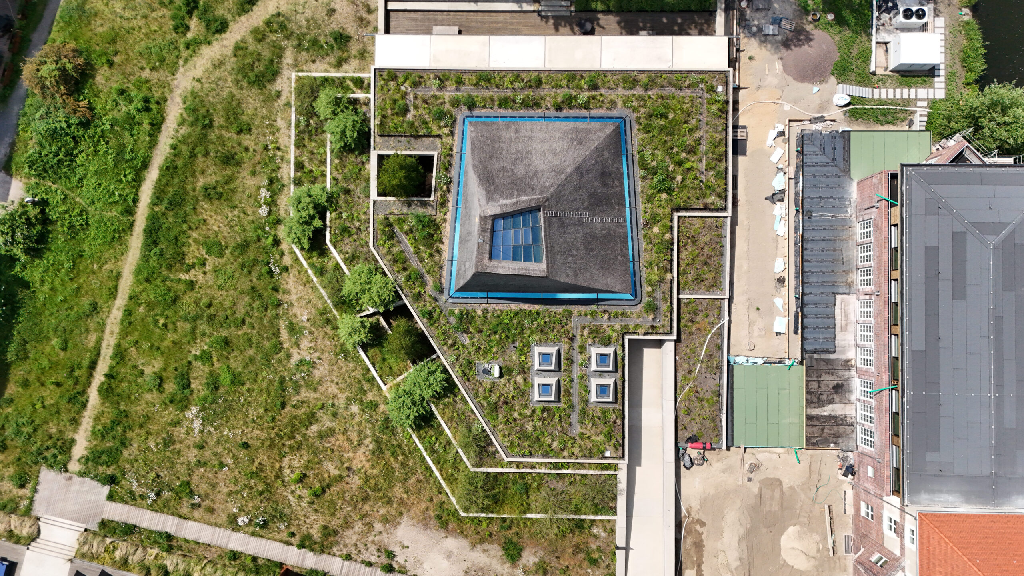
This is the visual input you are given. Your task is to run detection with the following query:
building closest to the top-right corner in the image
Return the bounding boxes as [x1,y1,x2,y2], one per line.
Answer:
[885,33,940,72]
